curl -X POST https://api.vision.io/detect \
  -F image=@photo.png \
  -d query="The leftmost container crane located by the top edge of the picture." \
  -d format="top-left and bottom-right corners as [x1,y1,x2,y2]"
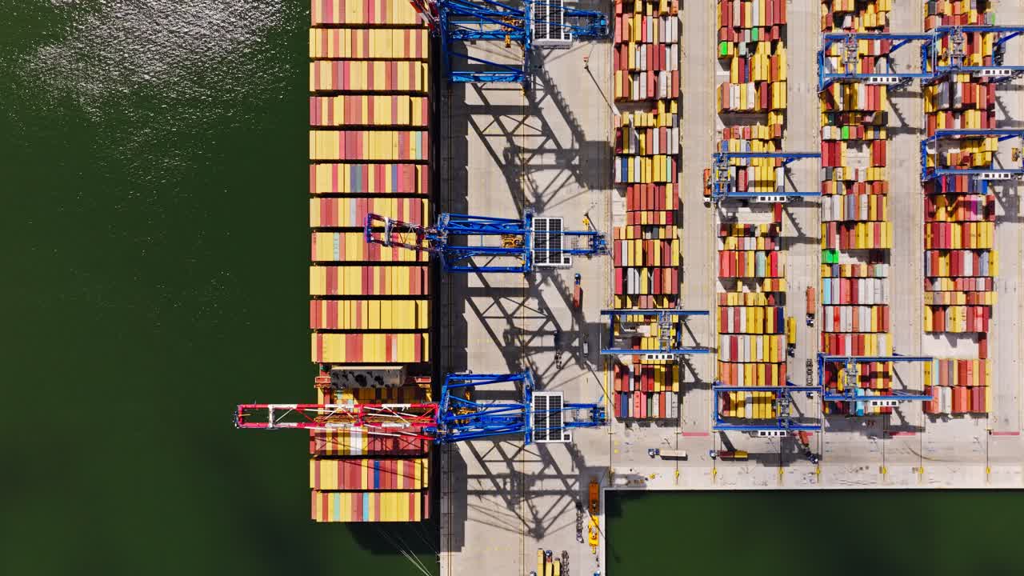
[407,0,608,100]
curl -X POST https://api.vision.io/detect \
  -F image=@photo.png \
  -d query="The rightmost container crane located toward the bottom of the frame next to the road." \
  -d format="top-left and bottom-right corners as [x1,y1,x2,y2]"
[818,348,934,409]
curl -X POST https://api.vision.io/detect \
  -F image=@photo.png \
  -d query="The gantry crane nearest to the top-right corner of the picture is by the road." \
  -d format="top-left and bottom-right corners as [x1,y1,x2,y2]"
[921,25,1024,91]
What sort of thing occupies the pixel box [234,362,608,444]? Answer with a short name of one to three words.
container crane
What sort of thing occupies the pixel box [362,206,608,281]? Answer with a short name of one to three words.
container crane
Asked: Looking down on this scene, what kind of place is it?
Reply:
port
